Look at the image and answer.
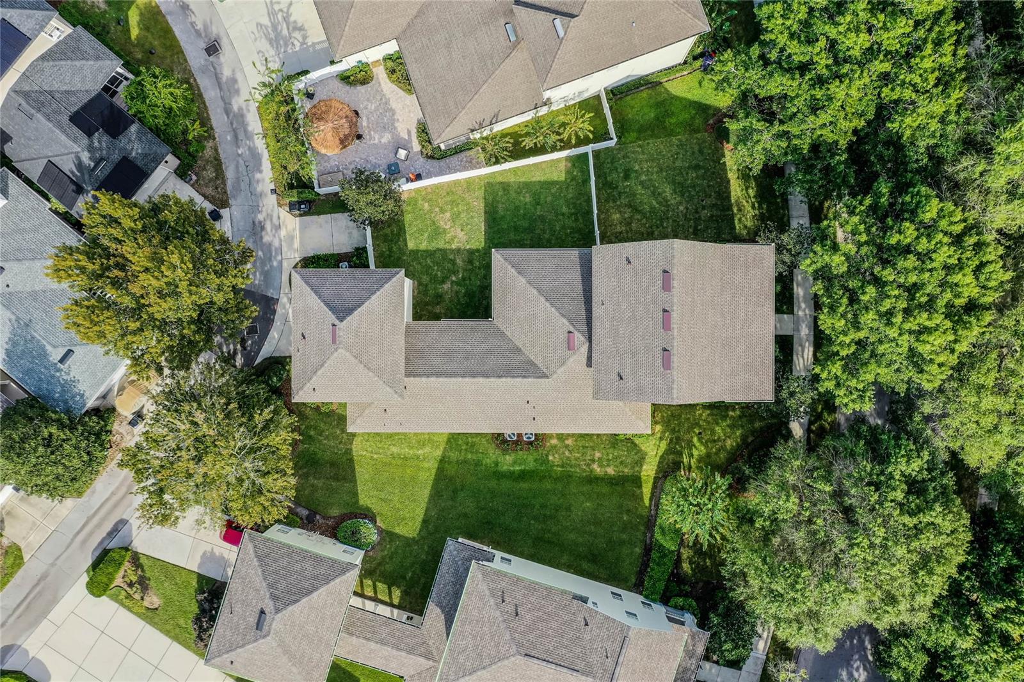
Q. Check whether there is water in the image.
No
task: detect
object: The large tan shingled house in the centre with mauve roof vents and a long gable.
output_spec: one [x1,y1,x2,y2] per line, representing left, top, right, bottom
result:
[291,239,775,434]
